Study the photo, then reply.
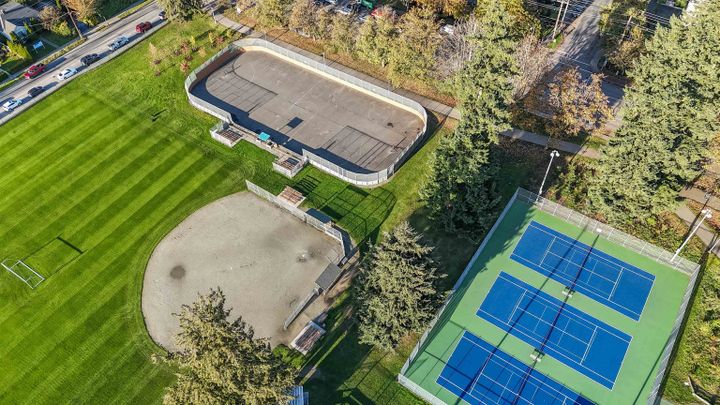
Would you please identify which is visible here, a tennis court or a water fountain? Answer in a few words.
tennis court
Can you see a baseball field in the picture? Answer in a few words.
Yes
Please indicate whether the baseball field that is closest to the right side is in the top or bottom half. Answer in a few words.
bottom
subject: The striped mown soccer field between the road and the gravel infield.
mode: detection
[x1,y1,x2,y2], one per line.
[0,84,233,405]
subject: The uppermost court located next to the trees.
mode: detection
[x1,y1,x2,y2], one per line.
[181,37,430,186]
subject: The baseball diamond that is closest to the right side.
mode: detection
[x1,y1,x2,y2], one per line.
[136,190,346,366]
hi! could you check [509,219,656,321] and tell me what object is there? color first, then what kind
blue tennis court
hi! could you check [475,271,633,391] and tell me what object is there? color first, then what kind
blue tennis court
